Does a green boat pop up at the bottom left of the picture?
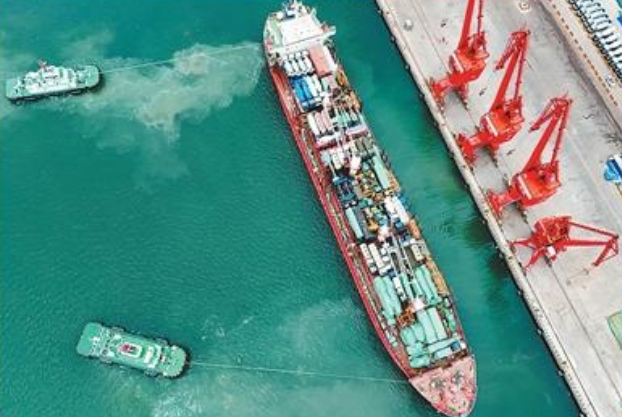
Yes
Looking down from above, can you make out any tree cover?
No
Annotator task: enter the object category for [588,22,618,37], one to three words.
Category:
vehicle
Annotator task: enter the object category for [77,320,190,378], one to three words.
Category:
boat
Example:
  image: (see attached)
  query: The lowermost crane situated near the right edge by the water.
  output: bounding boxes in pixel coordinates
[507,219,622,274]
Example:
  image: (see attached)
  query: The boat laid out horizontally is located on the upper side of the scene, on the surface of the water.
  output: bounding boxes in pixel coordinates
[6,63,101,106]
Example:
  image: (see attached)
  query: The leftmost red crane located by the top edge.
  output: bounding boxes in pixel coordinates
[425,0,483,104]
